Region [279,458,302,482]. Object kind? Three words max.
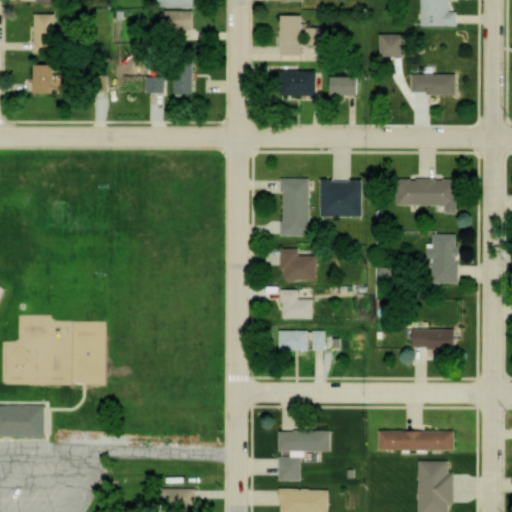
building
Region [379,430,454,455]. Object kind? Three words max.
house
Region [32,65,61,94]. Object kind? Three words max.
house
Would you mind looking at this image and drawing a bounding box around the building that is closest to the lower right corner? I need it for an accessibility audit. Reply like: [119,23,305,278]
[418,462,454,512]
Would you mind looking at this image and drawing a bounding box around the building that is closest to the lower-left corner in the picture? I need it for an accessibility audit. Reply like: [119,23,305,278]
[0,406,44,438]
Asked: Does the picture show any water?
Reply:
No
